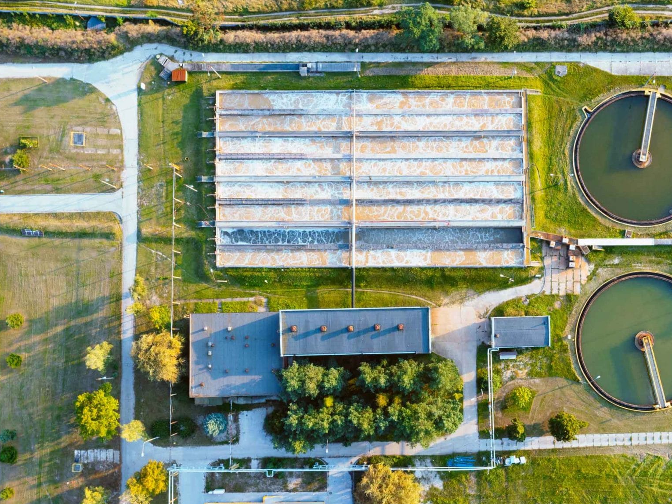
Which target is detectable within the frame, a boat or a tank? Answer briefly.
tank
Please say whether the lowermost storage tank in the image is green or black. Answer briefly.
green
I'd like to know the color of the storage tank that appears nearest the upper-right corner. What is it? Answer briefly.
green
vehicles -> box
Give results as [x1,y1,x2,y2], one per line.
[208,489,224,495]
[504,456,528,469]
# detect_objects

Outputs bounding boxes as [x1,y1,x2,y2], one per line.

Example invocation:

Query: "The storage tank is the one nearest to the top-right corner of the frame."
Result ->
[573,89,672,227]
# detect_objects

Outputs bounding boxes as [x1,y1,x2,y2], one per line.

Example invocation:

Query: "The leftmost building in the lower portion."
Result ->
[190,312,284,405]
